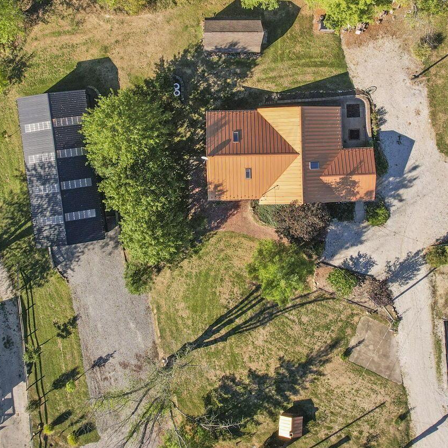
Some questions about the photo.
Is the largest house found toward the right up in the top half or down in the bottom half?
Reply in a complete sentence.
You can find the largest house found toward the right in the top half.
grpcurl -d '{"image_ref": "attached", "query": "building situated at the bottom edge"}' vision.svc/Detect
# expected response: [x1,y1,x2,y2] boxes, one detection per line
[278,410,304,440]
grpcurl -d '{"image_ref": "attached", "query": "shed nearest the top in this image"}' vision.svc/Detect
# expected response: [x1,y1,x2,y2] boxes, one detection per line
[204,17,263,53]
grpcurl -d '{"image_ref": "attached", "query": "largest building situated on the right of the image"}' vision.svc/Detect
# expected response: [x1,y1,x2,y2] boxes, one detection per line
[206,105,376,205]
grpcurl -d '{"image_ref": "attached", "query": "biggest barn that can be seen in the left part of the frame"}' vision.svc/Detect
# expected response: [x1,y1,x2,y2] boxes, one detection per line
[17,89,107,247]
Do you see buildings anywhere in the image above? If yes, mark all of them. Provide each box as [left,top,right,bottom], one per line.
[17,89,107,247]
[206,105,376,205]
[278,410,304,440]
[204,17,263,53]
